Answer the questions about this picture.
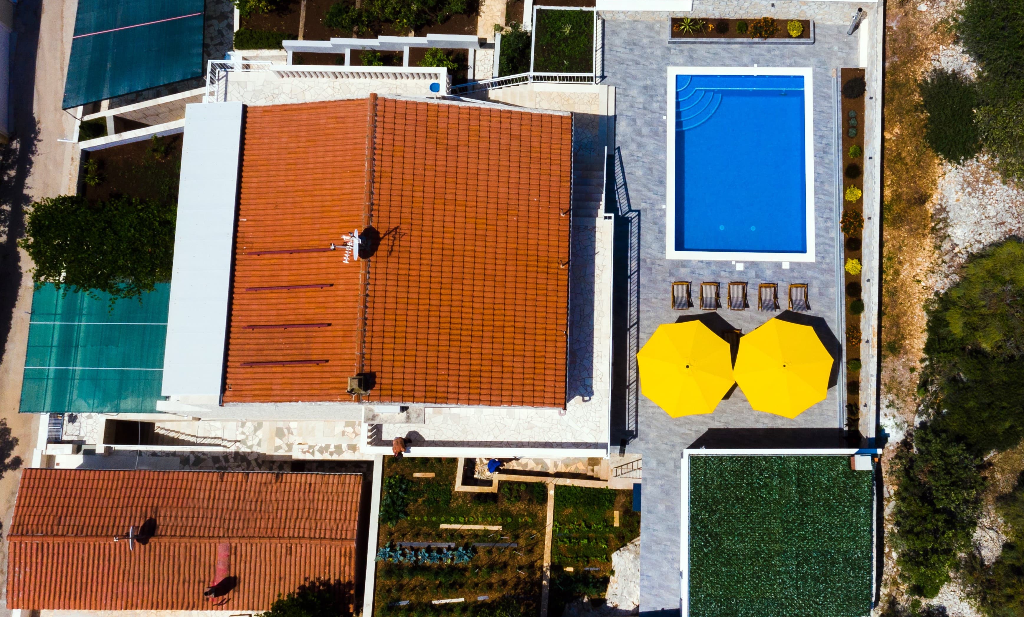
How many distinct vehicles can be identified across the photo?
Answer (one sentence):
The picture shows no vehicles.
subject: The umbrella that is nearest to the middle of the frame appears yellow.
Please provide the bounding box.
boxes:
[636,319,736,418]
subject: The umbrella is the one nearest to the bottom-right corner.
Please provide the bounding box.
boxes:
[731,316,834,420]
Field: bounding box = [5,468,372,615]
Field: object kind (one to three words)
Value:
house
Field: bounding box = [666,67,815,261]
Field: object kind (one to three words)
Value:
swimming pool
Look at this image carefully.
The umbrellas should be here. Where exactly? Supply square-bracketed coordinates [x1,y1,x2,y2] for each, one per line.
[636,319,736,418]
[731,316,834,420]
